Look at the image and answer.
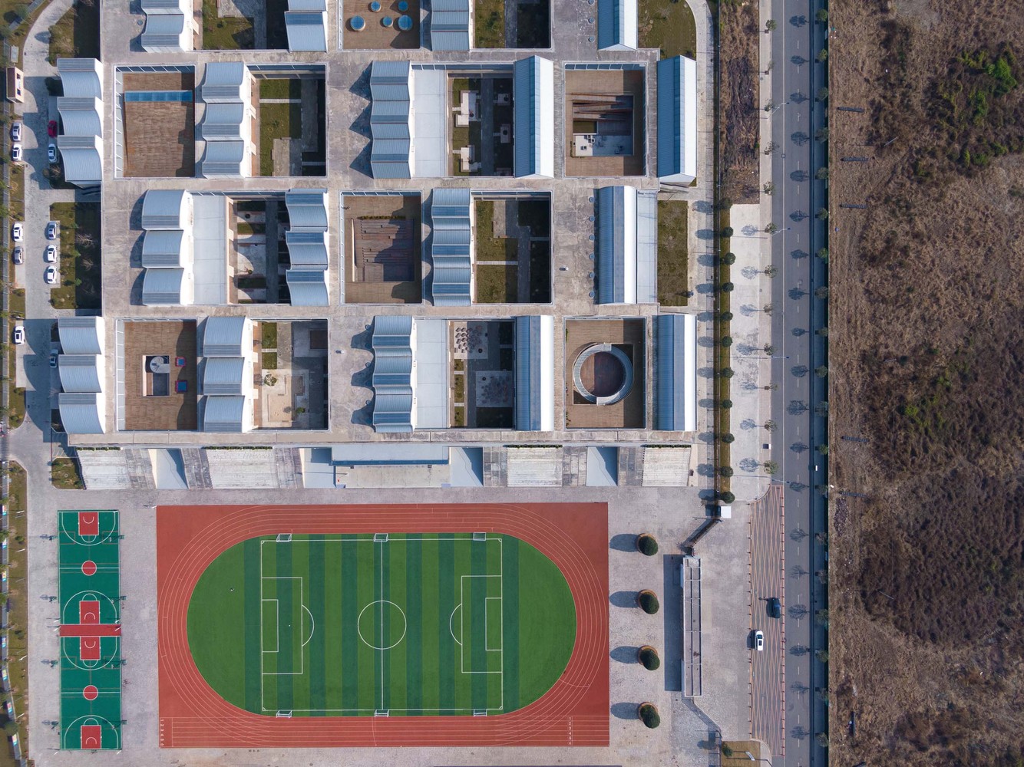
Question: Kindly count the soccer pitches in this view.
1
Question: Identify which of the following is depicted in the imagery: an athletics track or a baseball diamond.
athletics track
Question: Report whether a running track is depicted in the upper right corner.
No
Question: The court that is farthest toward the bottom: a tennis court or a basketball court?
basketball court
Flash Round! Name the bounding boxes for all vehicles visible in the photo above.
[771,598,780,618]
[48,120,58,139]
[11,123,22,141]
[14,326,25,345]
[13,222,23,241]
[47,266,57,284]
[48,220,58,239]
[754,631,764,651]
[12,143,23,162]
[13,246,24,264]
[49,349,59,368]
[48,143,58,162]
[48,244,58,263]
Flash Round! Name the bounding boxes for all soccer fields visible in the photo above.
[187,533,576,717]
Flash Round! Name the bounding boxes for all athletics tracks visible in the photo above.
[156,503,609,748]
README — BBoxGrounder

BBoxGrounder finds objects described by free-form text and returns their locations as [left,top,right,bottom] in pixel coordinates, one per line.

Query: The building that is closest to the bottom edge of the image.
[681,557,701,700]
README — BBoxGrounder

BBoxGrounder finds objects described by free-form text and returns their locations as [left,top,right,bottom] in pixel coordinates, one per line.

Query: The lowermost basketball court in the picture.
[58,636,122,750]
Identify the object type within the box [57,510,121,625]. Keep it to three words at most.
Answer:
basketball court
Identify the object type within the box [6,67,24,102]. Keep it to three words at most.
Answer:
shed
